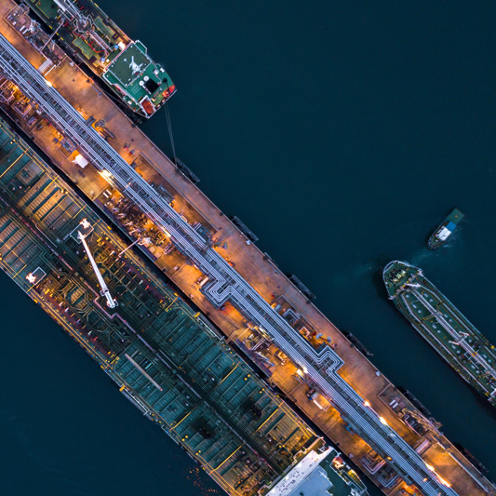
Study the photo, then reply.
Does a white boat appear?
No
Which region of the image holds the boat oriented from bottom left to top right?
right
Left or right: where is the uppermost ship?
left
